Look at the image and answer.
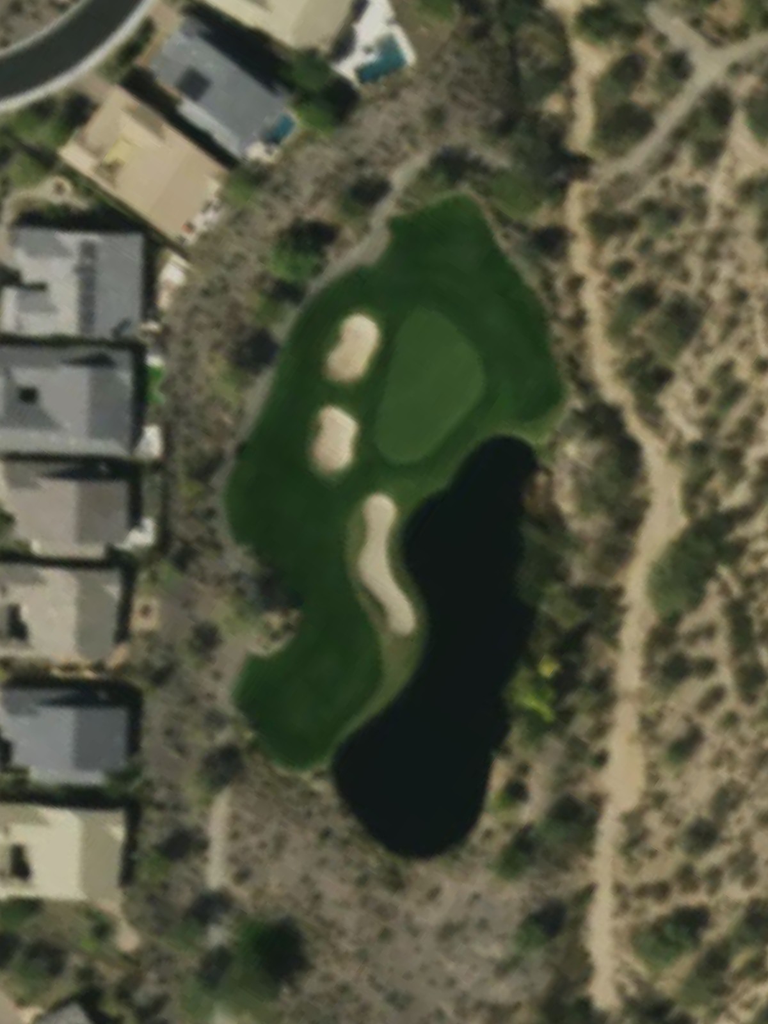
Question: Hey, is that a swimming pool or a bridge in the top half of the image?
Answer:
swimming pool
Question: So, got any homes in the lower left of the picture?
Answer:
Yes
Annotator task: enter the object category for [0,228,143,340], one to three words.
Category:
house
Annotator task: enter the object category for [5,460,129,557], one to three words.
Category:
house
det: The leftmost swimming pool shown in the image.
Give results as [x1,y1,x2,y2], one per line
[262,113,297,146]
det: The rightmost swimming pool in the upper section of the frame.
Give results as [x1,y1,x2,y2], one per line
[355,34,409,83]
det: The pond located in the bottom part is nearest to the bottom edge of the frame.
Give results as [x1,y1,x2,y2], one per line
[330,433,542,860]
